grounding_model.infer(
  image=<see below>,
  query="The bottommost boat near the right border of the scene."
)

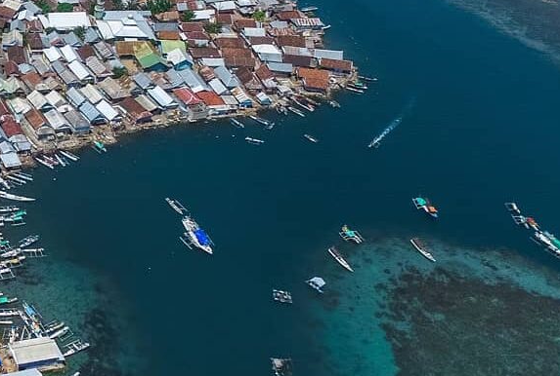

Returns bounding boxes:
[530,231,560,262]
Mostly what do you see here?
water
